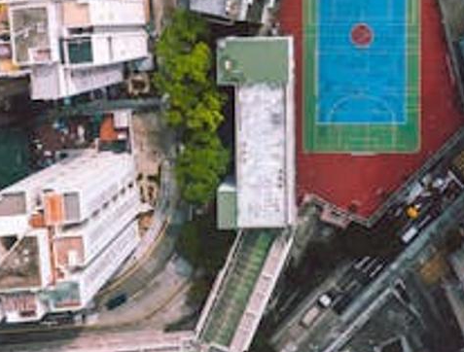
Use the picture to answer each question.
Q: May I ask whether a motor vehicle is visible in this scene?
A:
Yes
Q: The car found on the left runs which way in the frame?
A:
diagonally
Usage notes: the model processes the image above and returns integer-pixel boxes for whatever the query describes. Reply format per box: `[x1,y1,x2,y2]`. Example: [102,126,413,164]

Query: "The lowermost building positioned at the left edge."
[0,153,152,322]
